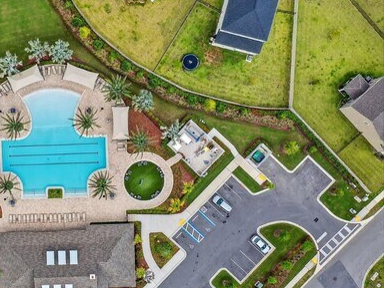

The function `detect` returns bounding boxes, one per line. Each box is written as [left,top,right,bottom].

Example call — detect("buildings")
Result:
[209,0,279,55]
[0,224,136,288]
[334,70,384,153]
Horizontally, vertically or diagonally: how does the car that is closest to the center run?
diagonally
